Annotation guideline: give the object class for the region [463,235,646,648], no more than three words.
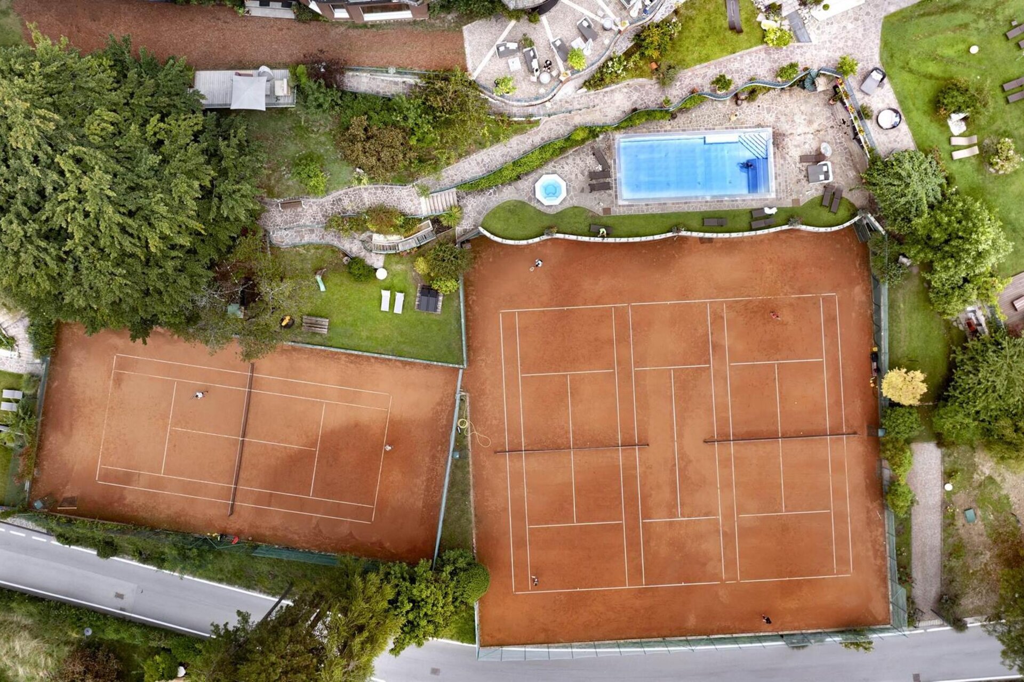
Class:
tennis court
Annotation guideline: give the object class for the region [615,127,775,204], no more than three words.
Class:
swimming pool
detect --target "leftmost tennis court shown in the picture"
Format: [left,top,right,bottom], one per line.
[30,323,463,563]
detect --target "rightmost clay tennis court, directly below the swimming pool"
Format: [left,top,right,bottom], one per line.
[701,222,892,639]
